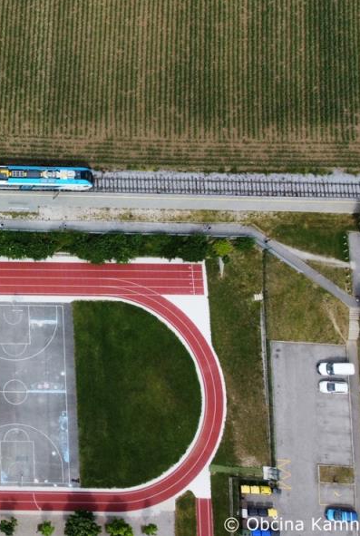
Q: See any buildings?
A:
No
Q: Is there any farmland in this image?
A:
Yes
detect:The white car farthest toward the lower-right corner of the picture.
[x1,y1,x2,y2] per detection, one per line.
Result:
[316,380,349,395]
